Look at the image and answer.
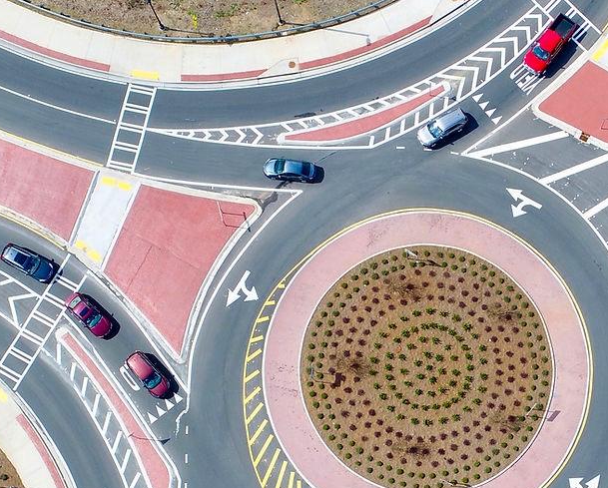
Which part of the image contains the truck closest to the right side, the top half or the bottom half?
top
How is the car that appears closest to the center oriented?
horizontally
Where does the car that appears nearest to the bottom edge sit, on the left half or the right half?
left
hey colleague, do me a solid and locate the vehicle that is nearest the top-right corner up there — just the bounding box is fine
[526,8,578,67]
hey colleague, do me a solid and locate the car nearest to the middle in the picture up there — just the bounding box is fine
[263,154,315,180]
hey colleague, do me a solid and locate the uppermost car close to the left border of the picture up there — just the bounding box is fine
[0,242,51,281]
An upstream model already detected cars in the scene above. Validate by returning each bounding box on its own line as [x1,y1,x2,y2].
[416,106,467,143]
[121,352,167,399]
[59,294,109,339]
[0,242,51,281]
[263,154,315,180]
